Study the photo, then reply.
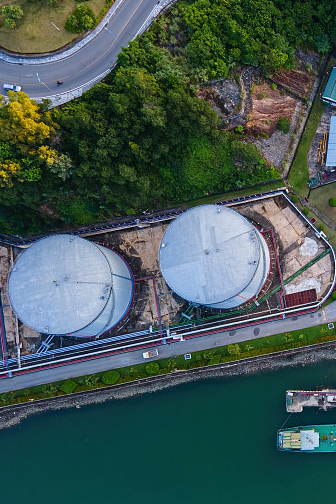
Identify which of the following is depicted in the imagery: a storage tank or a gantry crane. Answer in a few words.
storage tank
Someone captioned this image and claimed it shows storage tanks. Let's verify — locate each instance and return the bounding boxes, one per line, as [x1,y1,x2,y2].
[7,232,140,342]
[158,202,276,309]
